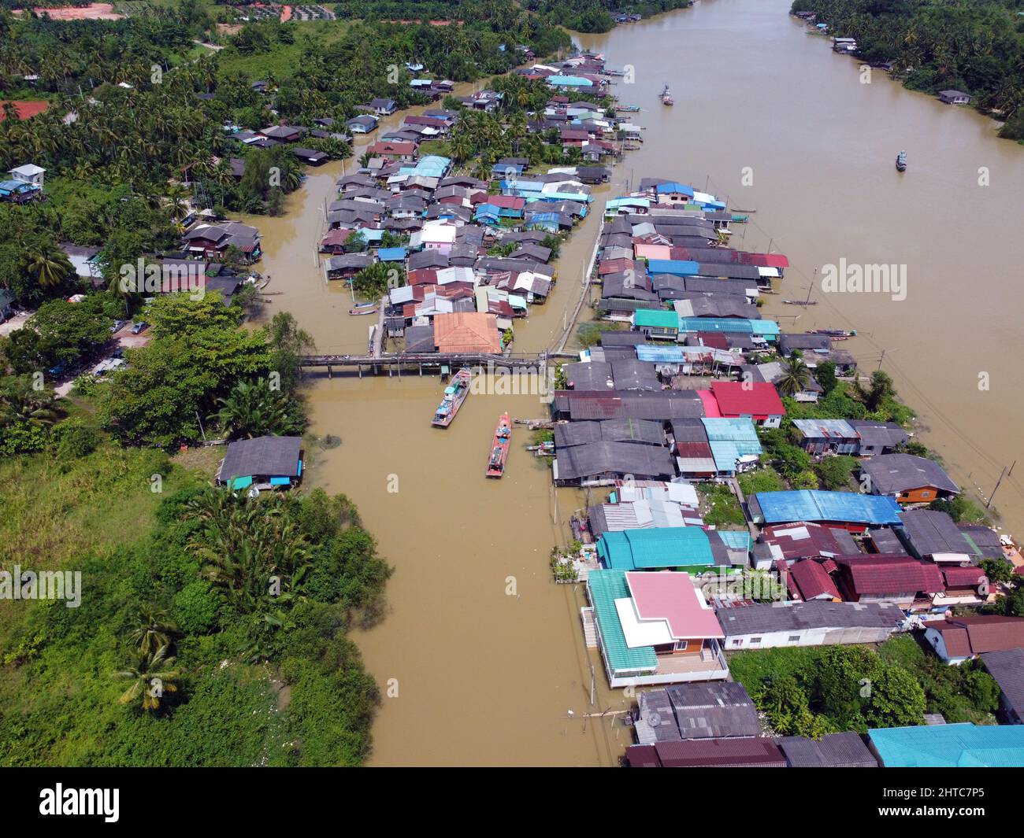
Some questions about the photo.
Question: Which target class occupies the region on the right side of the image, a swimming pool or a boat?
boat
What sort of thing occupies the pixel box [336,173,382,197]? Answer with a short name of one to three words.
house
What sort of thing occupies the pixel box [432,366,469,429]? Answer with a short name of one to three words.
boat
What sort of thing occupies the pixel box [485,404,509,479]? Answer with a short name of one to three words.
boat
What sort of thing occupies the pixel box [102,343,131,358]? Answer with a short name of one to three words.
car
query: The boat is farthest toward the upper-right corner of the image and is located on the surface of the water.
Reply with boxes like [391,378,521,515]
[890,142,911,168]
